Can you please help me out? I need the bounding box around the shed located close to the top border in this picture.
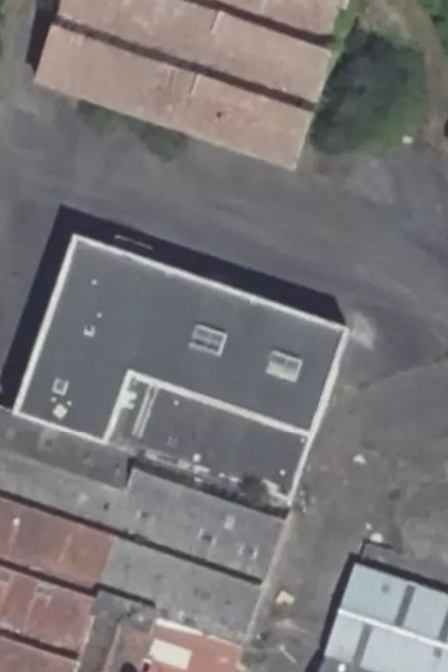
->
[33,0,350,171]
